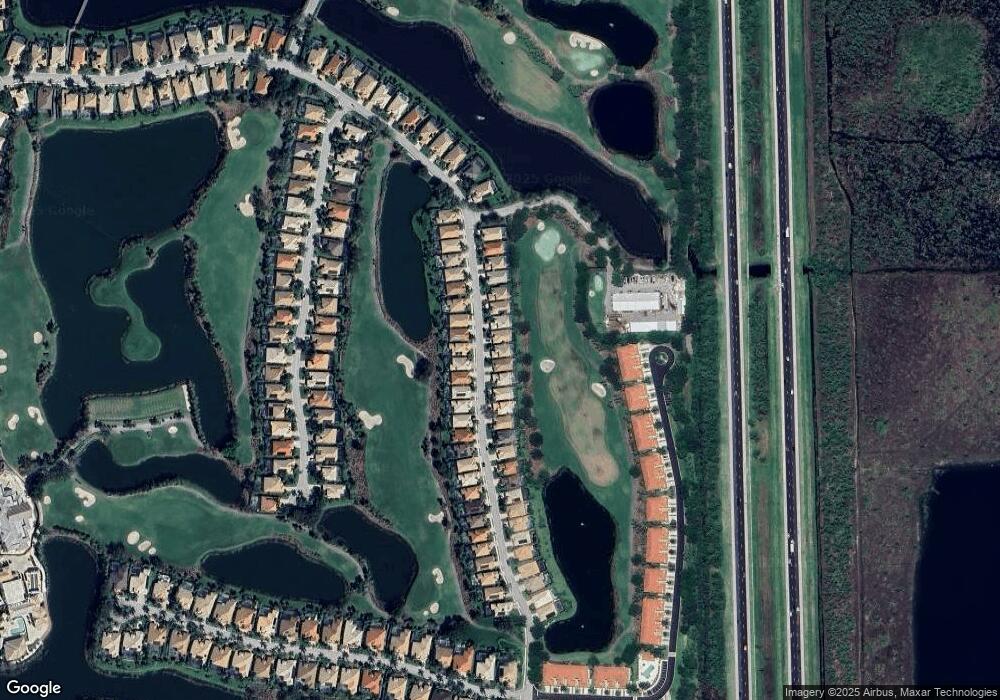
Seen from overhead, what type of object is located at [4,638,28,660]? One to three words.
building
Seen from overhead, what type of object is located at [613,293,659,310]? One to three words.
shed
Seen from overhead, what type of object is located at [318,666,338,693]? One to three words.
house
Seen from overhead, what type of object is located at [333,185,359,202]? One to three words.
house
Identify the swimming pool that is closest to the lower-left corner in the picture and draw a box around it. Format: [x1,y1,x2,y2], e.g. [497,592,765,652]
[4,615,26,637]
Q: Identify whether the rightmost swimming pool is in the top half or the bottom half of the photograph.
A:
bottom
